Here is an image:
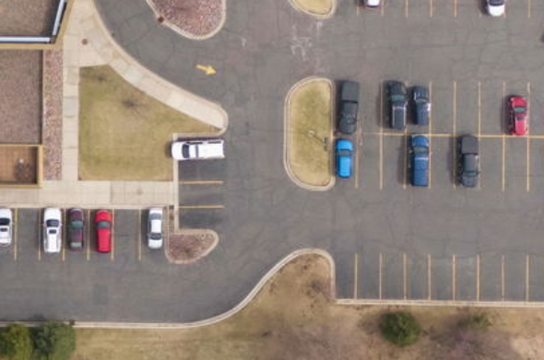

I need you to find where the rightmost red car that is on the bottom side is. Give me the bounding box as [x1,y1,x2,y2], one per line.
[94,208,114,253]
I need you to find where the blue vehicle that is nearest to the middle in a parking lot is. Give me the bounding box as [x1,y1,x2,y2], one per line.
[335,138,355,178]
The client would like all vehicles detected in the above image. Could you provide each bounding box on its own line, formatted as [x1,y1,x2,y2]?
[410,84,431,125]
[171,138,226,161]
[386,80,409,130]
[335,138,355,178]
[94,208,114,253]
[42,207,63,254]
[408,134,431,188]
[506,93,528,136]
[483,0,506,16]
[336,78,360,134]
[361,0,380,8]
[456,134,480,188]
[0,207,14,245]
[144,207,166,250]
[66,207,87,251]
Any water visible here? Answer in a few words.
No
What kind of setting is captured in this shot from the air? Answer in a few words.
parking lot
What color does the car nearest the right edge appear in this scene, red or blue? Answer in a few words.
red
